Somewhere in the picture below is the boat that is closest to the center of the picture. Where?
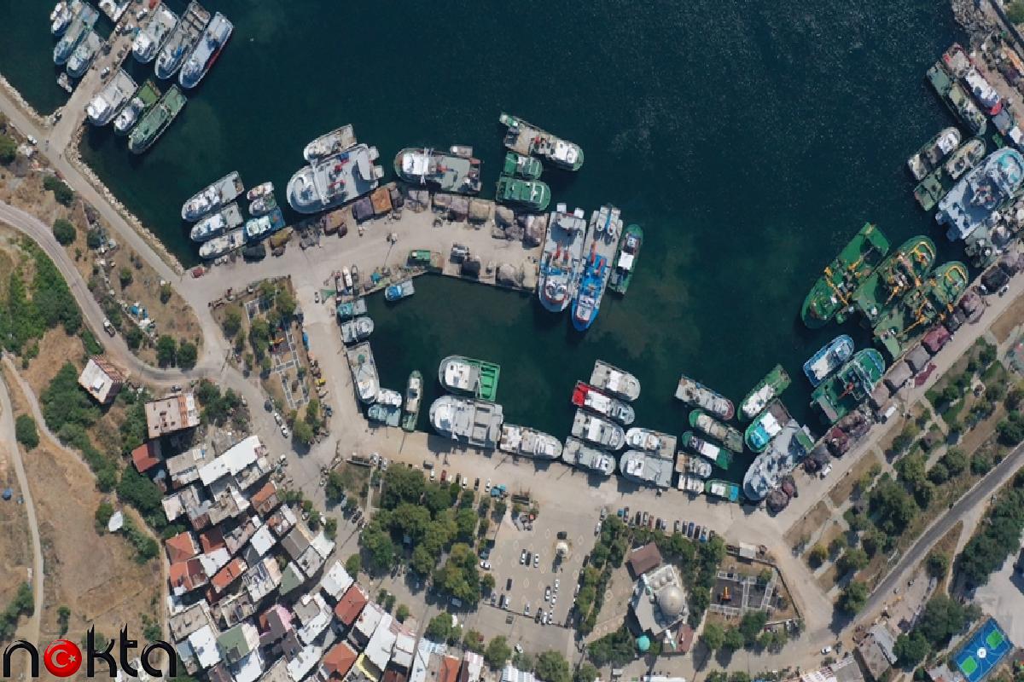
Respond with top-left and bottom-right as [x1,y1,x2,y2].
[438,356,502,402]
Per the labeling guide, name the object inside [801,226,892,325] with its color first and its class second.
green boat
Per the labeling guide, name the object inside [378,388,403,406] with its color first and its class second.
white boat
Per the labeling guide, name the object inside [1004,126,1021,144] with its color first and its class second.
white boat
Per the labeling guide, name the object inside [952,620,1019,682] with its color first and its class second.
blue sports court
